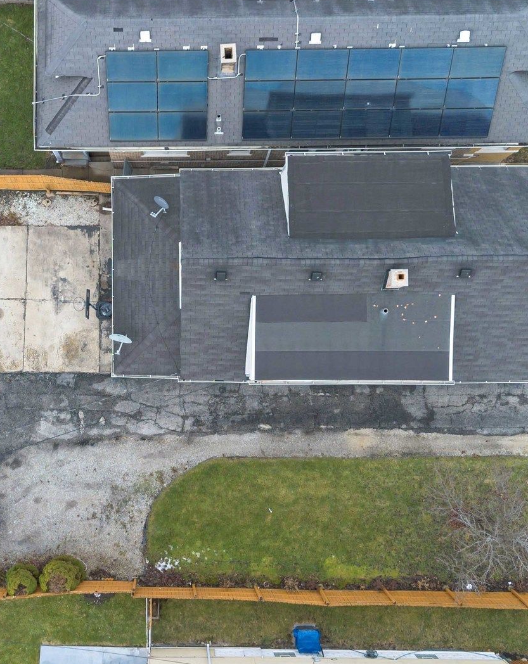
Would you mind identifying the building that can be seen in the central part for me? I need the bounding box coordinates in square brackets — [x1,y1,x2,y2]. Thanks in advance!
[105,152,528,386]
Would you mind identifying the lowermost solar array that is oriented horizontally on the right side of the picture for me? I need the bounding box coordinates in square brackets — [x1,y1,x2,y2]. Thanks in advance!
[239,39,505,140]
